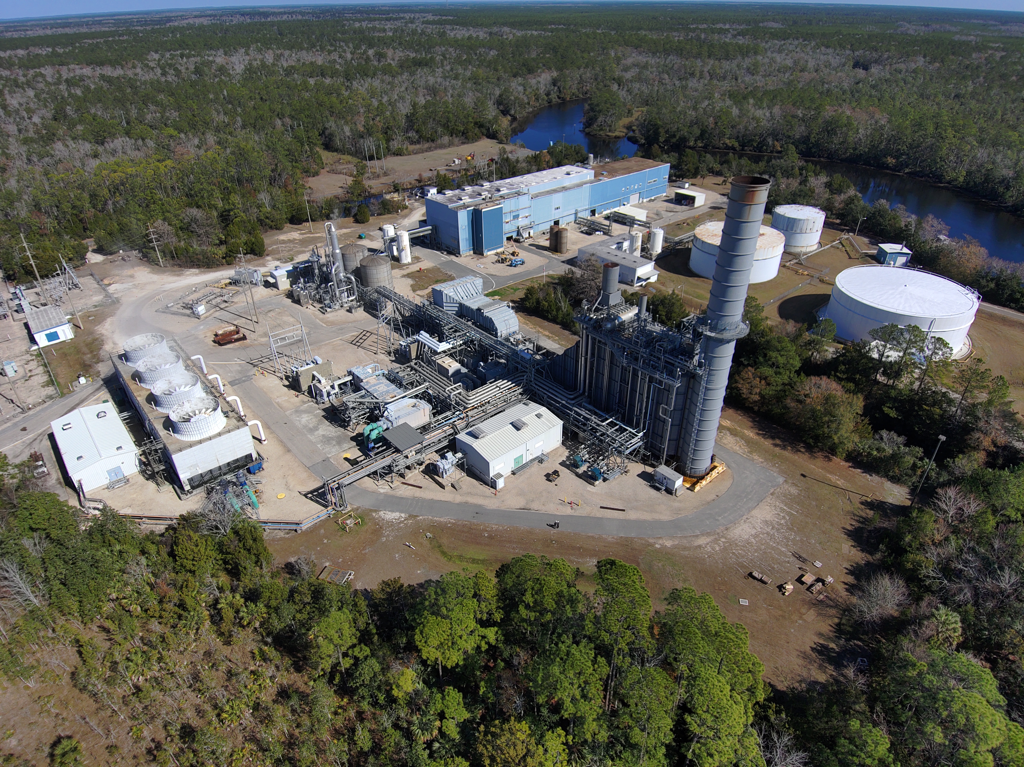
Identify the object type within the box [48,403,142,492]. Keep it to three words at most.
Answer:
building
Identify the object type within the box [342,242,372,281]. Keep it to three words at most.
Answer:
silo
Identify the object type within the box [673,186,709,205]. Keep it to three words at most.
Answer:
shed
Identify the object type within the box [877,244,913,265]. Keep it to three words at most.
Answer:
shed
